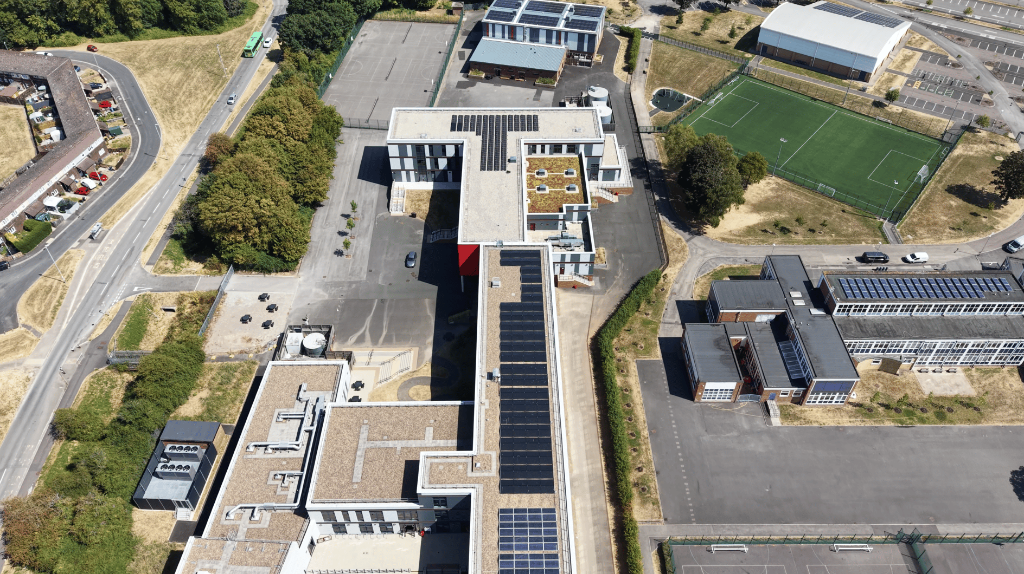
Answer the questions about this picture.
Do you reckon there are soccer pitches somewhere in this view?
Yes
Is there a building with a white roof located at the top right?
Yes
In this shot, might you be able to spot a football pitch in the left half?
No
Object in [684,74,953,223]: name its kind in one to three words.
soccer field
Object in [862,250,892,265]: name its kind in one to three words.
vehicle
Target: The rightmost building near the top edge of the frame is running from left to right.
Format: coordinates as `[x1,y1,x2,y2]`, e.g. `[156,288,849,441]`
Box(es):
[758,0,913,81]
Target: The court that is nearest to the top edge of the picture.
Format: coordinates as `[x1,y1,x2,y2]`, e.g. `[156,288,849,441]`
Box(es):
[327,20,459,127]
